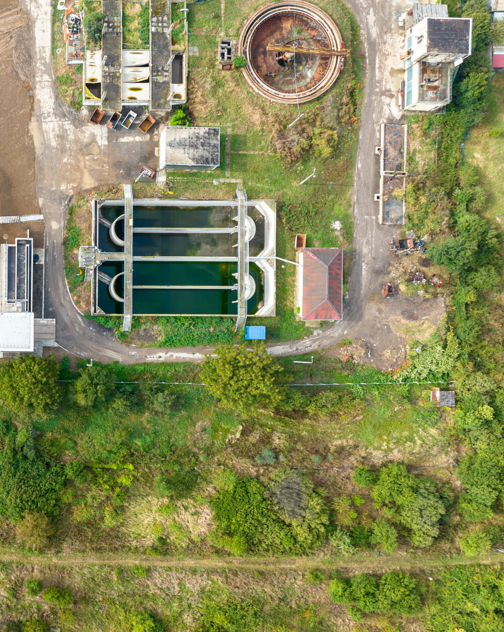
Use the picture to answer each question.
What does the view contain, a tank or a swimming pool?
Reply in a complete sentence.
There is a tank in the scene.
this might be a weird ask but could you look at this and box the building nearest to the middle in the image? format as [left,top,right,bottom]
[297,248,343,327]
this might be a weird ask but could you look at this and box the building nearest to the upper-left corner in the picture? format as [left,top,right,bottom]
[155,126,220,170]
